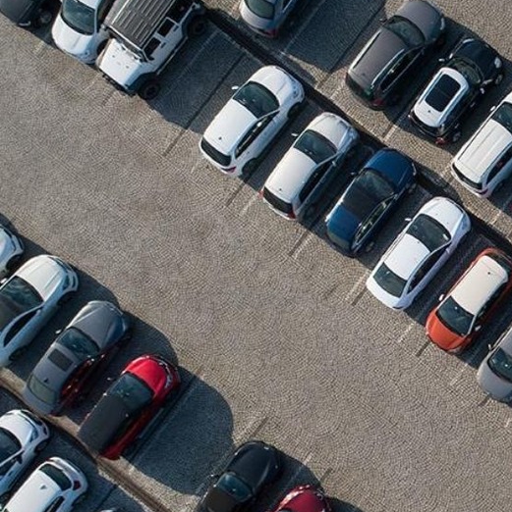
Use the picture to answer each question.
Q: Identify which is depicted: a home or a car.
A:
car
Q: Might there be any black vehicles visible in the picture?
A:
Yes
